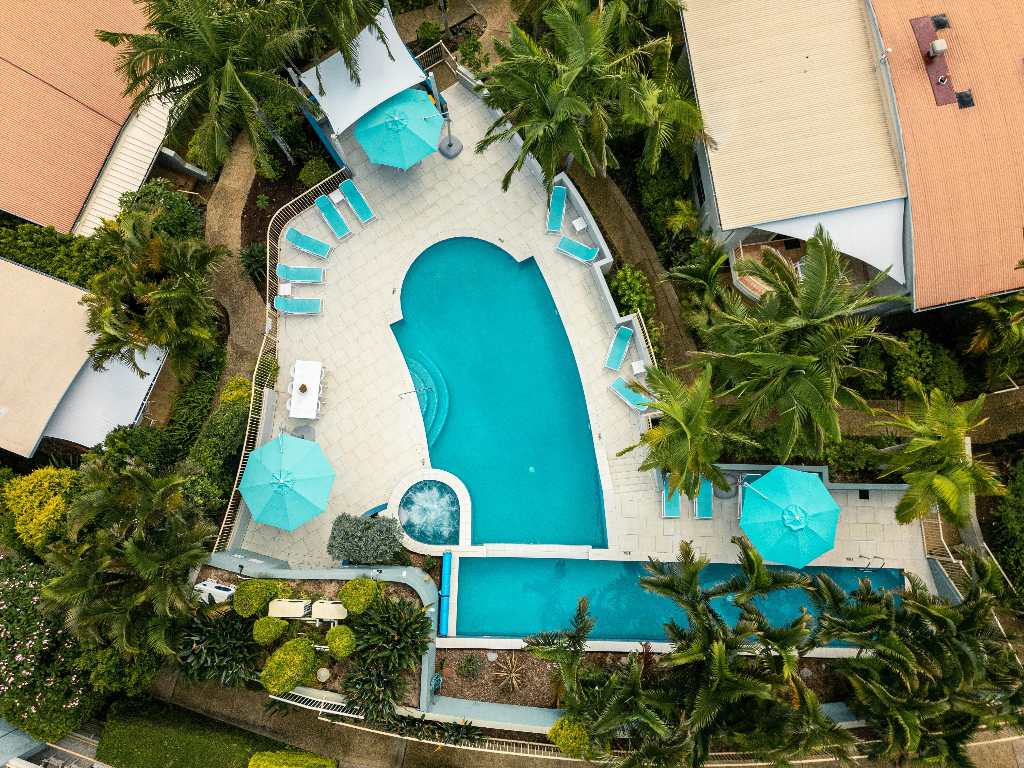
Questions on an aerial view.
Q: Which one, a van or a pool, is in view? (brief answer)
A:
pool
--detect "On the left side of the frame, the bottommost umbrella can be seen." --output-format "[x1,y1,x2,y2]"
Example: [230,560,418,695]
[238,423,336,532]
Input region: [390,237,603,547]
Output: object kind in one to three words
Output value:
swimming pool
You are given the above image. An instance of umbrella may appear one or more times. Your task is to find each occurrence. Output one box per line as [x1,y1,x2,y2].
[356,89,464,169]
[714,466,841,569]
[238,423,336,532]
